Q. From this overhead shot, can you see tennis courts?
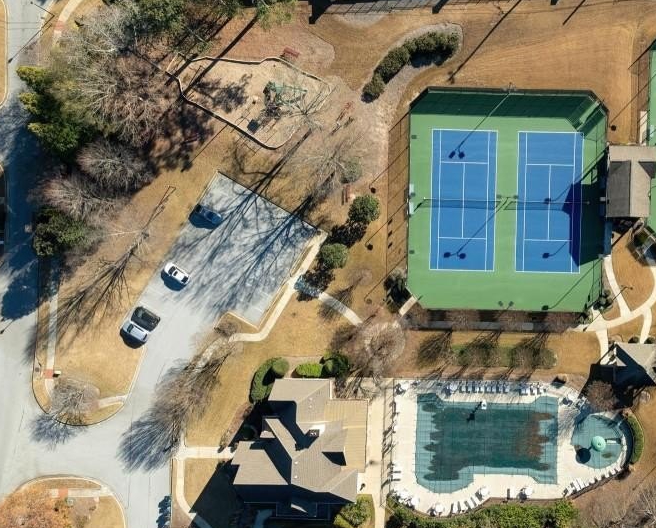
Yes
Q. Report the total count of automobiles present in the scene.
4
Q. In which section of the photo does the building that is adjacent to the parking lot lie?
bottom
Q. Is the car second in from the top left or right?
left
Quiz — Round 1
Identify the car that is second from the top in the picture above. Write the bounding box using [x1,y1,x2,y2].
[160,265,189,286]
